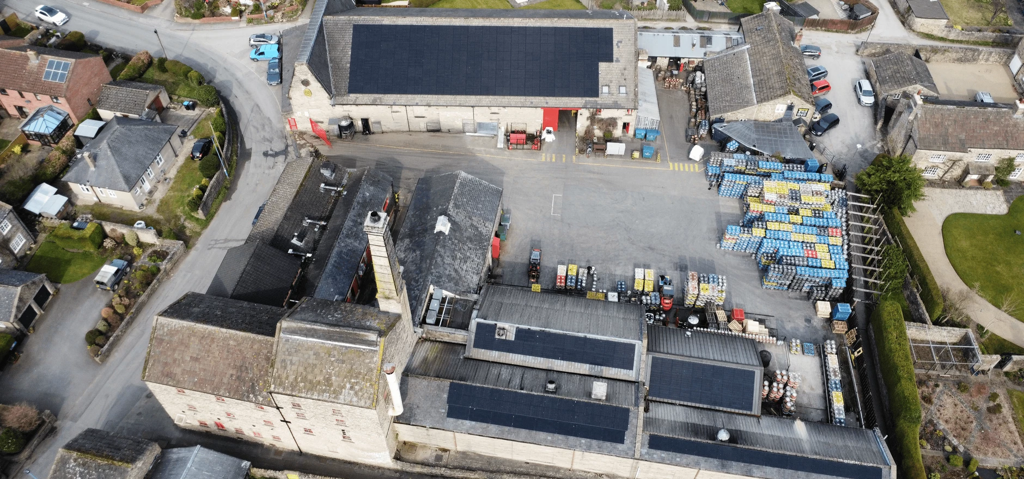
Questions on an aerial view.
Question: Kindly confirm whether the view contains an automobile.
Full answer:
Yes, this view includes an automobile.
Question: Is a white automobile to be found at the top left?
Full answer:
Yes, I can see a white automobile at the top left.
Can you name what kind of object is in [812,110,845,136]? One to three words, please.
car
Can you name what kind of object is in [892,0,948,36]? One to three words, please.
barn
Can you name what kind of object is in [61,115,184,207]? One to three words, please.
house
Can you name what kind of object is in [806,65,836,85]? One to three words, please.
car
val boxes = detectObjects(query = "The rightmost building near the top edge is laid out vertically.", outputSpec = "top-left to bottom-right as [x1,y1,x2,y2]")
[990,16,1024,94]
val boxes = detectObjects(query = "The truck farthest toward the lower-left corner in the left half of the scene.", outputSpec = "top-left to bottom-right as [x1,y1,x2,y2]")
[87,254,131,293]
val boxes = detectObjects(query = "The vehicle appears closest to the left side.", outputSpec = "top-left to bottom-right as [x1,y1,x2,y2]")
[31,3,66,25]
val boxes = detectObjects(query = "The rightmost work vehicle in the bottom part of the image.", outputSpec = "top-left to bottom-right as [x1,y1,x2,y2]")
[658,279,677,315]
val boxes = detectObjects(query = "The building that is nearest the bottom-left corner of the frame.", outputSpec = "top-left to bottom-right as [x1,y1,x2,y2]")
[51,428,166,479]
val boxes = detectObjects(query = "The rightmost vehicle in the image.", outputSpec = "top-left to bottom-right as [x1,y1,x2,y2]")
[967,83,1004,101]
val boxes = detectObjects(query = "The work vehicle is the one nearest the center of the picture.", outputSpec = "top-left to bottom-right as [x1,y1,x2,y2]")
[529,247,541,282]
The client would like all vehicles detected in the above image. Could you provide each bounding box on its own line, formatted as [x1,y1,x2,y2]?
[806,65,836,85]
[587,142,593,157]
[247,43,282,63]
[854,75,877,106]
[31,3,66,25]
[812,110,845,136]
[658,279,677,315]
[967,83,1004,101]
[529,247,541,282]
[811,96,840,116]
[264,55,282,82]
[189,135,211,161]
[87,254,131,293]
[810,80,838,100]
[245,30,280,48]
